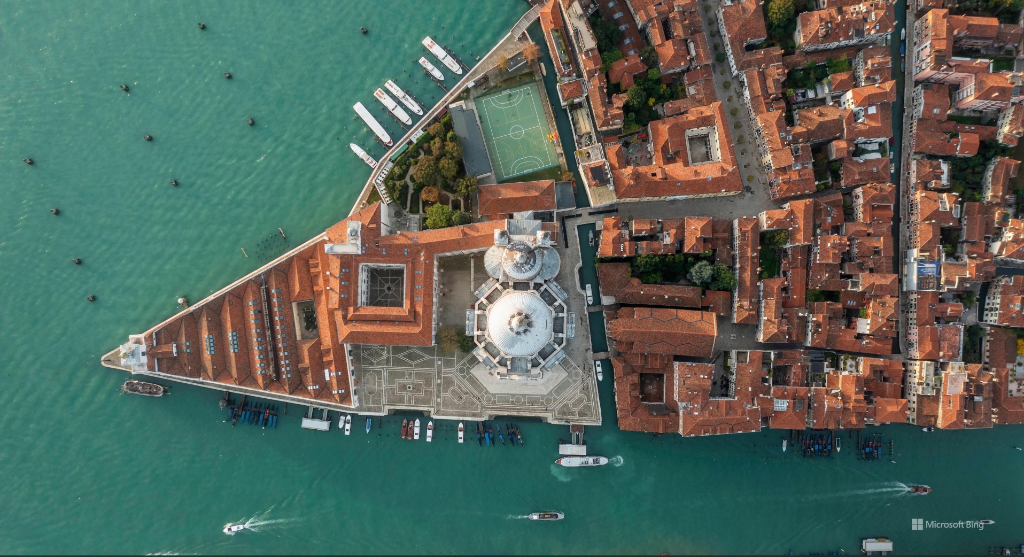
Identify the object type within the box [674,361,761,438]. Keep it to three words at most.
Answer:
building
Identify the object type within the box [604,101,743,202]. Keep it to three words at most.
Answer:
building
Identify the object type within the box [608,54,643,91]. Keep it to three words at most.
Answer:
house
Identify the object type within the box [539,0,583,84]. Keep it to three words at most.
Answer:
house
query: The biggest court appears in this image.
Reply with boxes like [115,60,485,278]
[476,82,560,182]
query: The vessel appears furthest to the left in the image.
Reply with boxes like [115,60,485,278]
[120,379,167,396]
